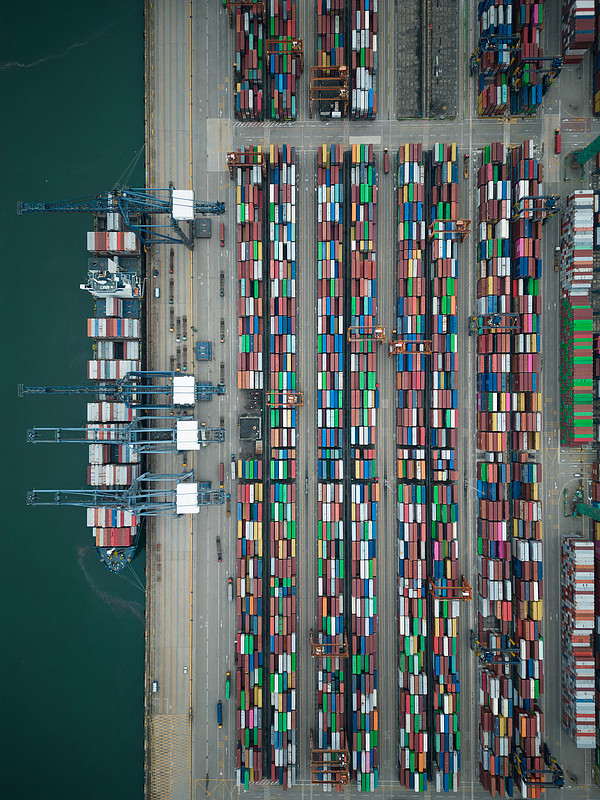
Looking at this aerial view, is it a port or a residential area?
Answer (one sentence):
This looks like a port.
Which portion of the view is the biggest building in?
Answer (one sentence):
The biggest building appears toward the center of the photo.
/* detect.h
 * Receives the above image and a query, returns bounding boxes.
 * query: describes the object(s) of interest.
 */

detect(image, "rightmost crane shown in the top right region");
[565,129,600,181]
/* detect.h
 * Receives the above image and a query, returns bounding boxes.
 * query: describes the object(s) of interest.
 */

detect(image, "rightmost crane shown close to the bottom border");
[508,742,563,784]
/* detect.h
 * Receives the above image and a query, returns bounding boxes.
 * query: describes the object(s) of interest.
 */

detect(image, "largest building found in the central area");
[243,415,263,440]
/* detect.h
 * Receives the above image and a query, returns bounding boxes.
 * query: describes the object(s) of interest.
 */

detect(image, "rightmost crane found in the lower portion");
[563,488,600,523]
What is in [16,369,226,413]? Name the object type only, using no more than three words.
container crane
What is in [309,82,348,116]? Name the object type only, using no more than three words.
container crane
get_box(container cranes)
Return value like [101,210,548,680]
[309,64,348,92]
[383,341,432,359]
[264,40,305,75]
[226,0,266,30]
[264,390,305,409]
[470,629,520,663]
[310,762,349,784]
[470,35,520,77]
[508,57,562,97]
[27,409,225,455]
[309,82,348,116]
[310,729,349,764]
[469,313,519,337]
[16,187,226,252]
[509,196,560,227]
[27,462,225,516]
[426,220,473,245]
[426,573,473,599]
[310,627,349,657]
[508,742,563,784]
[344,327,388,347]
[226,152,266,181]
[16,369,226,413]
